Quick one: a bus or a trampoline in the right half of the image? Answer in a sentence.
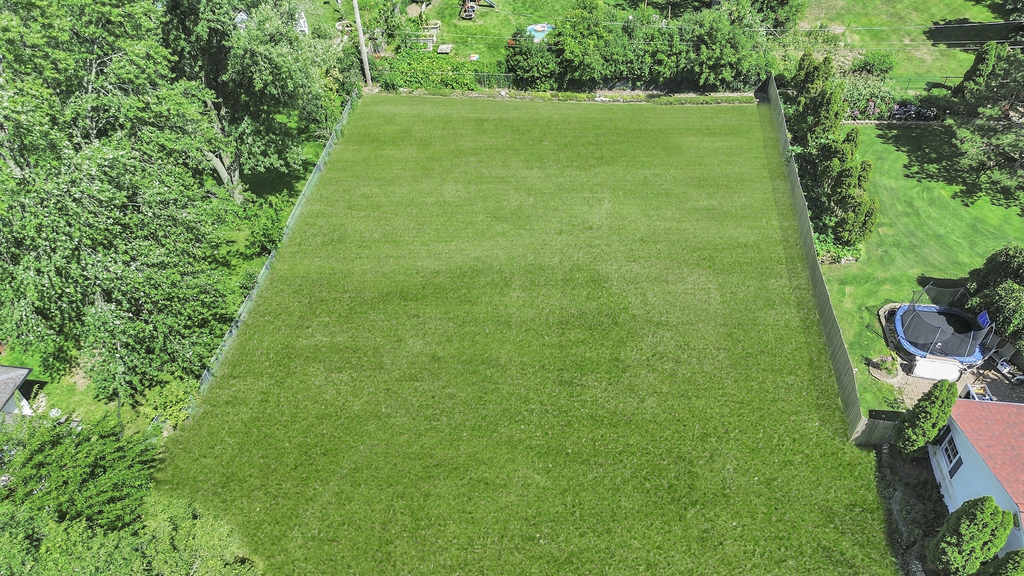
The one visible in the right half of the image is a trampoline.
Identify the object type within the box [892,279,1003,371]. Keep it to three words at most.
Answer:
trampoline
